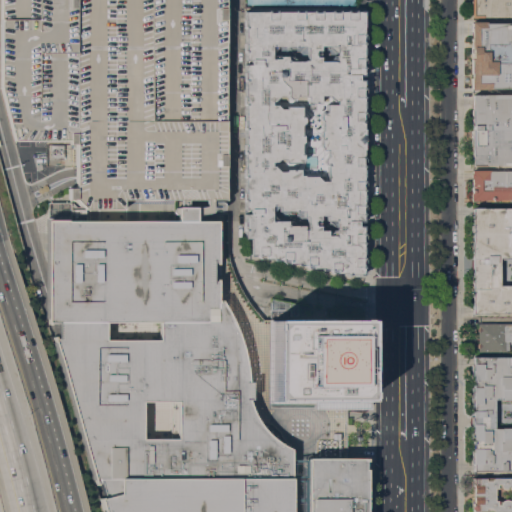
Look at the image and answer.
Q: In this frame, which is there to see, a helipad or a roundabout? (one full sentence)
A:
The image shows a helipad.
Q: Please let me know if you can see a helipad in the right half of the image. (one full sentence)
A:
Yes, a helipad shows up in the right half of the image.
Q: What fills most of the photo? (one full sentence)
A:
The bulk of the photo consists of buildings.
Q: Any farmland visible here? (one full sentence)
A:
No, no farmland is visible.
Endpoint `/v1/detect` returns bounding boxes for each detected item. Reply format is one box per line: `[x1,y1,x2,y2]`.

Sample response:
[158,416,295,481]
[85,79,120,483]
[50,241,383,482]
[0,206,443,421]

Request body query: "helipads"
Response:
[323,336,374,388]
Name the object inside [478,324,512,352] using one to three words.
building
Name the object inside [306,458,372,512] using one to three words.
building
